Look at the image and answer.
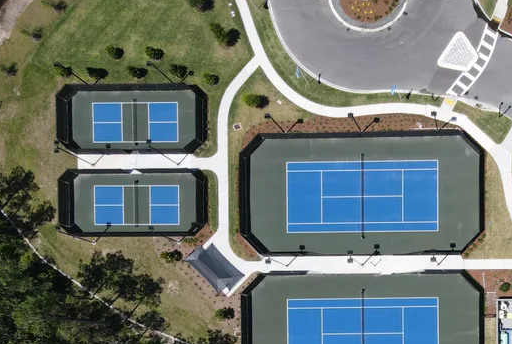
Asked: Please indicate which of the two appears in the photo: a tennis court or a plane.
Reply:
tennis court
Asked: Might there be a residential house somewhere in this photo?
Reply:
No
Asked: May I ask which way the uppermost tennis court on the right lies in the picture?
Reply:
horizontally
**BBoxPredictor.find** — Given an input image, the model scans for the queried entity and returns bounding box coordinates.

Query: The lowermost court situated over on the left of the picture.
[68,174,194,234]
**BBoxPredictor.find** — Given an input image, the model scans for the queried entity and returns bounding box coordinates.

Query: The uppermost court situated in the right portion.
[245,139,479,256]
